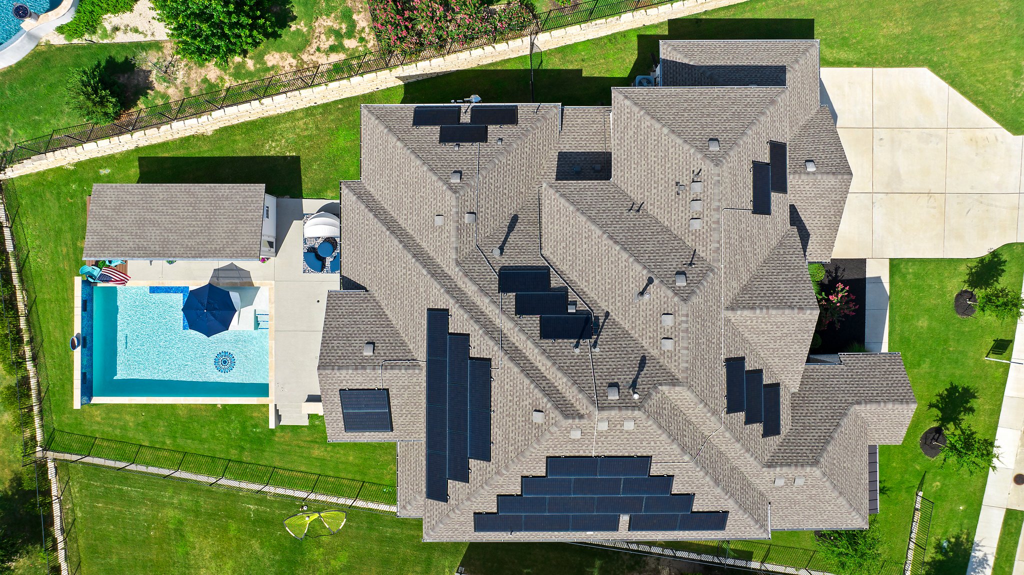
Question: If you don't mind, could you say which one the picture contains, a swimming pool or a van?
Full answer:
There is a swimming pool in the scene.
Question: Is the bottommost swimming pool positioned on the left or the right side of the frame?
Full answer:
The bottommost swimming pool is on the left side of the image.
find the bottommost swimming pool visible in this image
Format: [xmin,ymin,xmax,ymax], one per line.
[74,277,275,409]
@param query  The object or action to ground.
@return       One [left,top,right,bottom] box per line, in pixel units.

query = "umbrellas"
[182,283,237,337]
